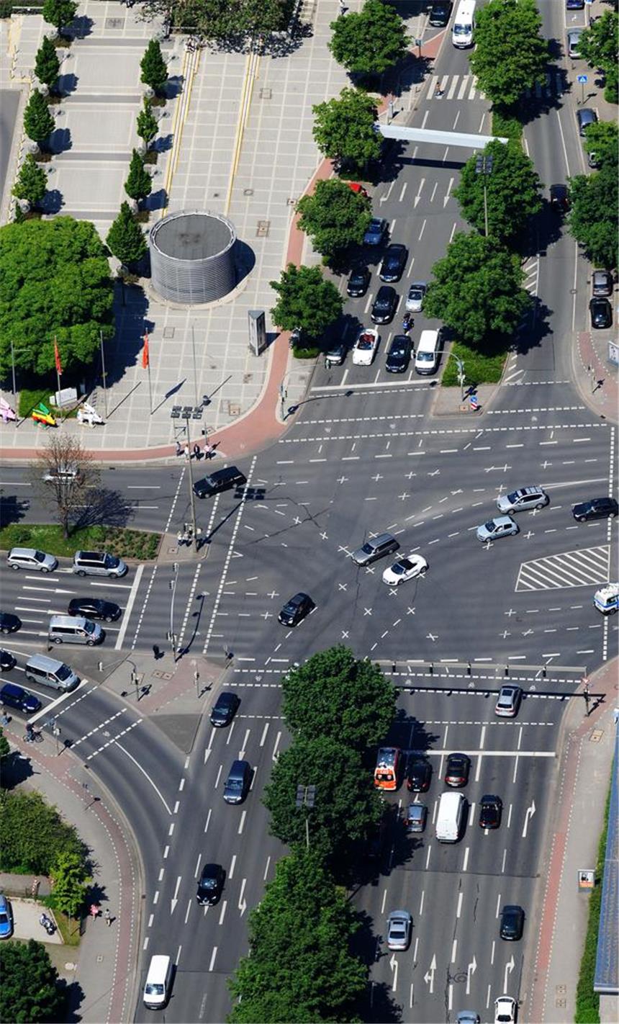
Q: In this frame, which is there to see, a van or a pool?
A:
van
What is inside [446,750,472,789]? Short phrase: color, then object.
black car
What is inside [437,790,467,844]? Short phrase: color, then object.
white van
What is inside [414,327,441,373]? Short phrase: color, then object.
white vehicle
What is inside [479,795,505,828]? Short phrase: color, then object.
black car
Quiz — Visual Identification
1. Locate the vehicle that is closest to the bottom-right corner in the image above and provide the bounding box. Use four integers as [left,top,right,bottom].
[493,996,519,1024]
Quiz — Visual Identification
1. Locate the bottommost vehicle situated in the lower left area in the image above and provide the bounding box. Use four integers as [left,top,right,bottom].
[142,953,173,1005]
